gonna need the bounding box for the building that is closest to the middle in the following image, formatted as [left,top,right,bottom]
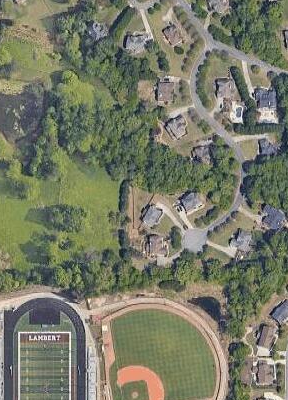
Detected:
[140,204,164,227]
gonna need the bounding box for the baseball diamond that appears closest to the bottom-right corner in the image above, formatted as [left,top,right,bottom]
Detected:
[103,303,221,400]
